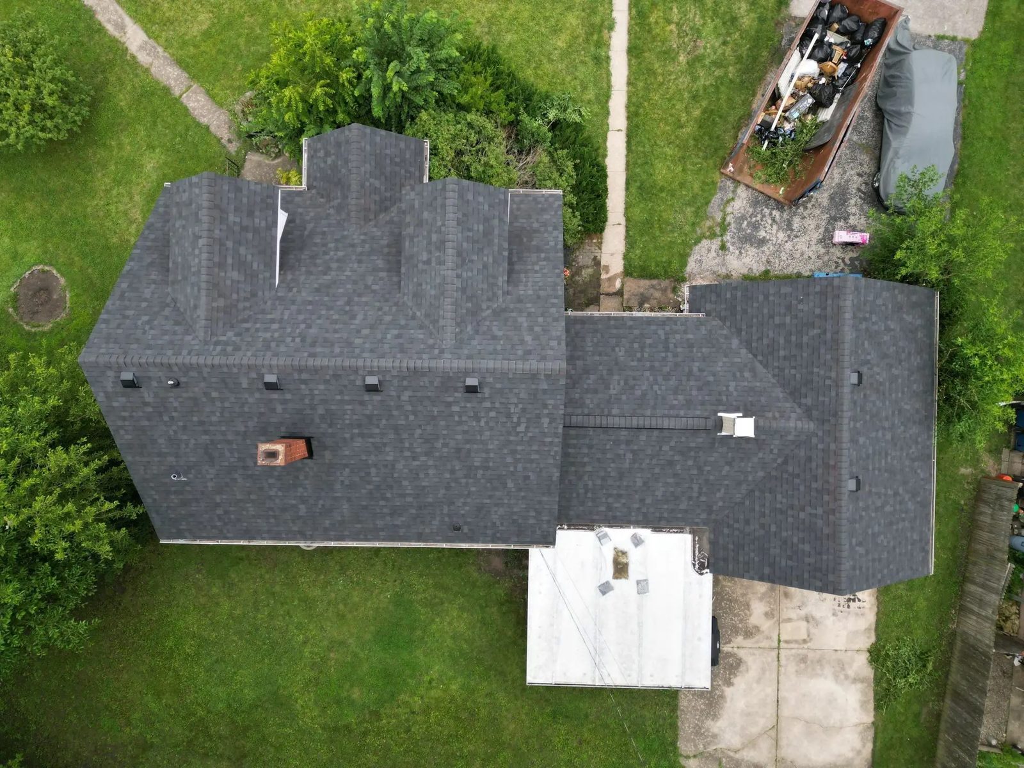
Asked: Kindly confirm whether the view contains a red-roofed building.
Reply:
No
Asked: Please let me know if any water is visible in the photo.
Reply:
No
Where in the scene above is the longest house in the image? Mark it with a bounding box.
[80,124,942,595]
